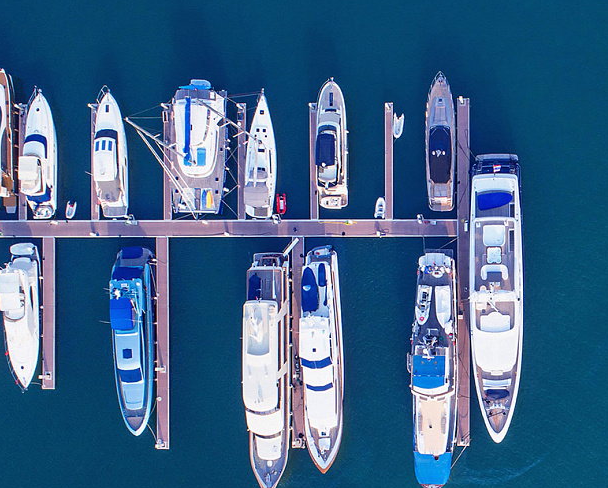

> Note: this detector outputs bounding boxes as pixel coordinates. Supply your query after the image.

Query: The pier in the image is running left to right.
[0,220,457,238]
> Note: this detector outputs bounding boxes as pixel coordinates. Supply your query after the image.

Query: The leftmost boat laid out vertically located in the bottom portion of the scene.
[0,244,46,392]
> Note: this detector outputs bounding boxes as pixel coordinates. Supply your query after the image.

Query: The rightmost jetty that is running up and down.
[457,97,470,446]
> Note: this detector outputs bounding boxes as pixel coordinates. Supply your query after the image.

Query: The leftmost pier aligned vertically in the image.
[18,103,30,220]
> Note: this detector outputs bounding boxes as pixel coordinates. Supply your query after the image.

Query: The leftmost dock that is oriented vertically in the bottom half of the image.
[42,237,58,389]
